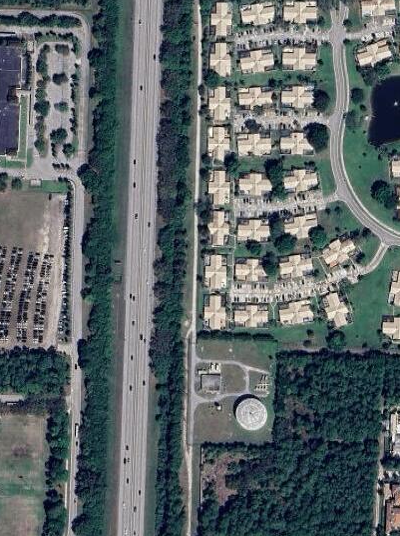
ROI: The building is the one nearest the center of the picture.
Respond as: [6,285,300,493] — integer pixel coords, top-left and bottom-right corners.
[204,255,227,289]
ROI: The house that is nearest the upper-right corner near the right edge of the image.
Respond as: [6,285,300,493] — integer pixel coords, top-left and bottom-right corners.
[359,0,394,16]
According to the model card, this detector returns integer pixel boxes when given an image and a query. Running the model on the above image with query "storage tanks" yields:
[235,397,267,430]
